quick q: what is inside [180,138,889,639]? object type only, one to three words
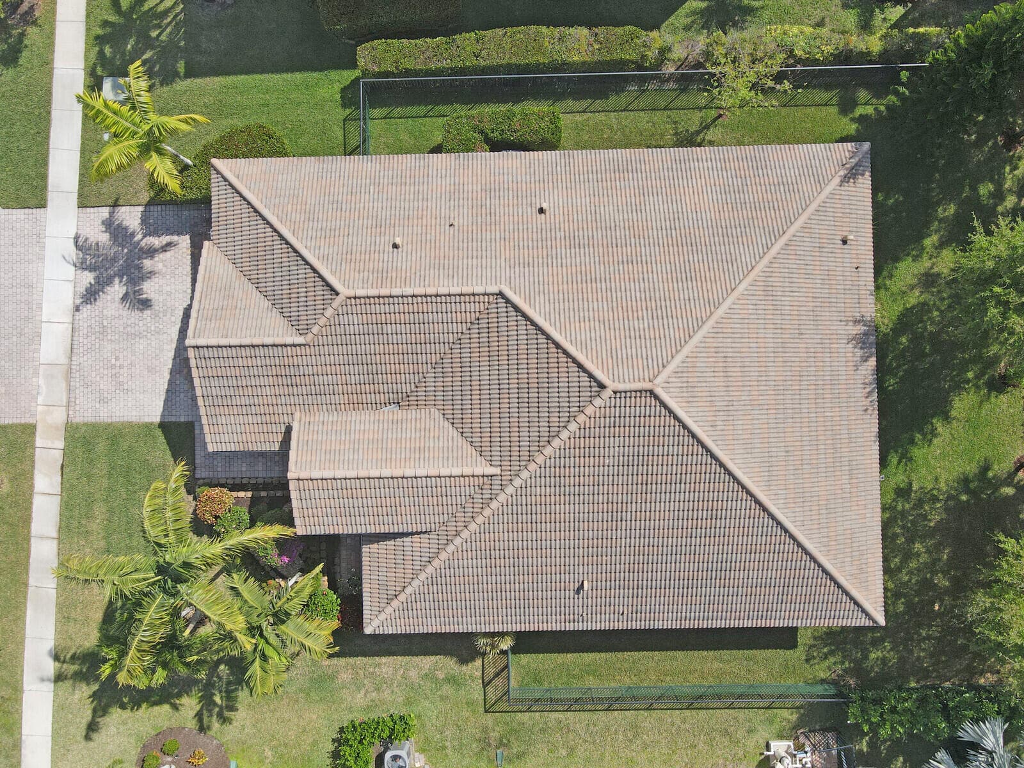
house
